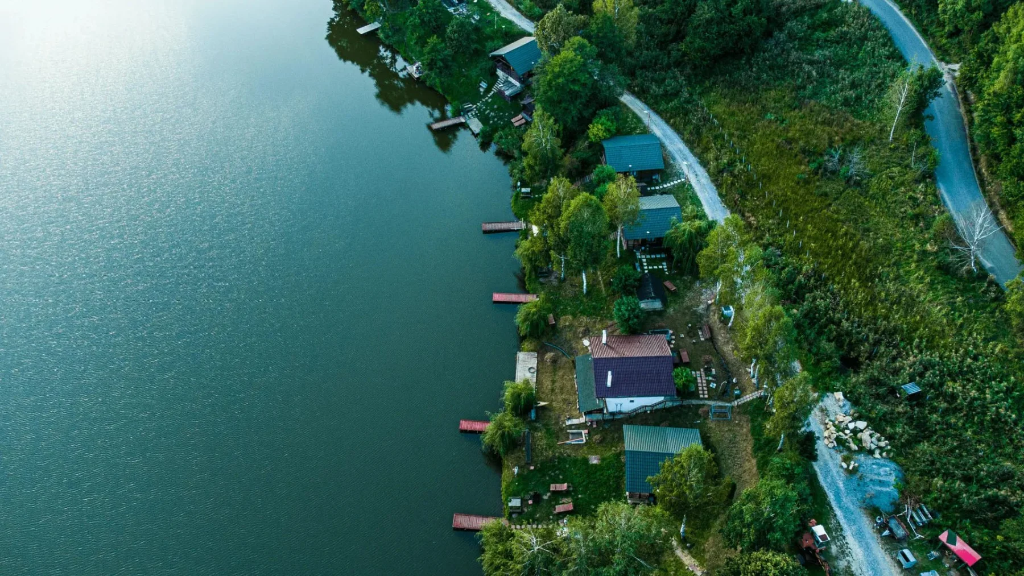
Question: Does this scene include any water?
Yes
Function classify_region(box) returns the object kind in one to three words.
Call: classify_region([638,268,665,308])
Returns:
shed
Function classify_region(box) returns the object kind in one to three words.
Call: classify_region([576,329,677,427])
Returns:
house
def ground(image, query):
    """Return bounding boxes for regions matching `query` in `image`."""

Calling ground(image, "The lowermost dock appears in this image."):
[453,513,509,533]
